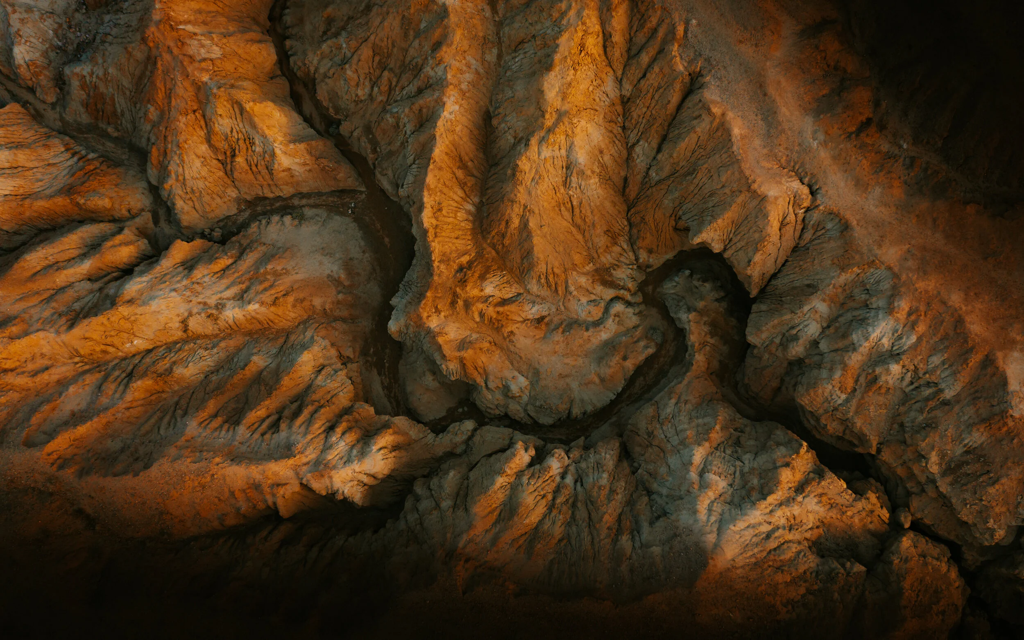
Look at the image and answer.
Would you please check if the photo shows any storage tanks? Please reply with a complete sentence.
No, I can see no storage tank in this picture.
